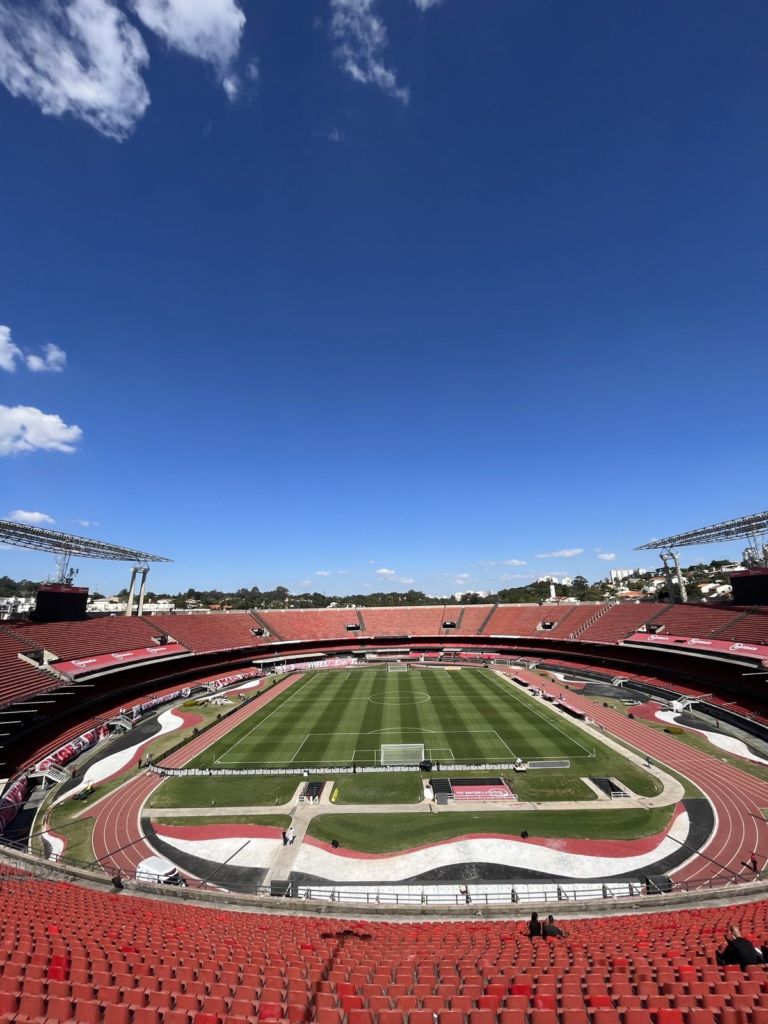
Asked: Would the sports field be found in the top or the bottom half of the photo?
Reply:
bottom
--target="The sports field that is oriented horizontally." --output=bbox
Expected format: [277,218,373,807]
[194,669,625,769]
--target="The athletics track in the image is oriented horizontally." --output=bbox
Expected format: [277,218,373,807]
[65,660,768,892]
